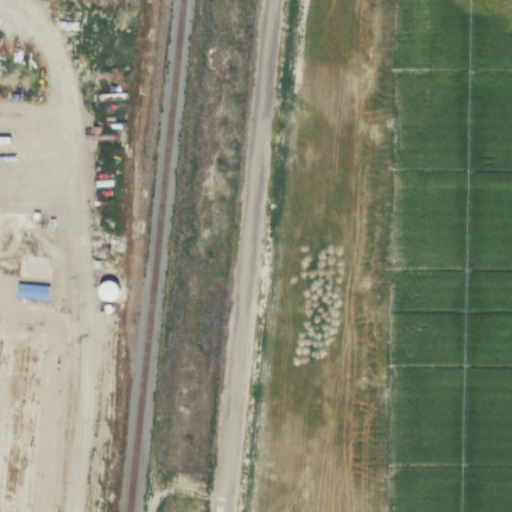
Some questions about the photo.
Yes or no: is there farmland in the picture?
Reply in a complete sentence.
Yes, there is farmland in the image.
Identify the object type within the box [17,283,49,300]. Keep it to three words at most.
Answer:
shed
